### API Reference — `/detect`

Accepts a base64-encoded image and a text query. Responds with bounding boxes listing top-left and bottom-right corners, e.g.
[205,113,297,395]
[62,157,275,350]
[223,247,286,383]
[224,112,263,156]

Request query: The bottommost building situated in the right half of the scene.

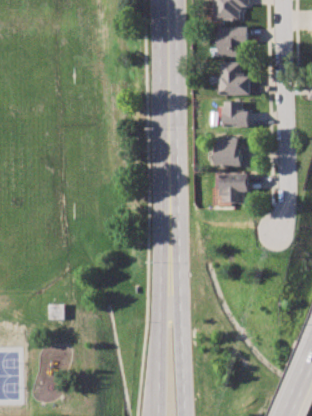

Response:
[216,172,248,206]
